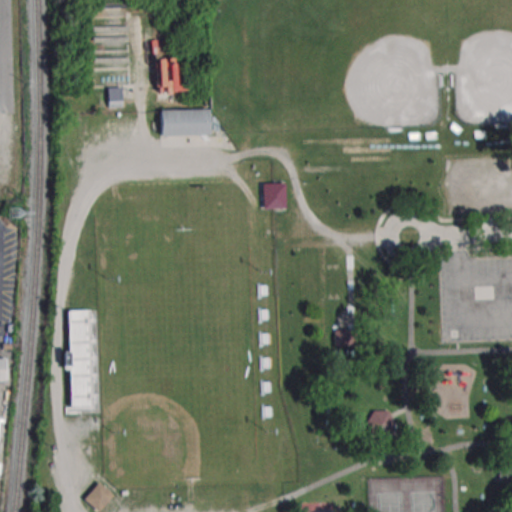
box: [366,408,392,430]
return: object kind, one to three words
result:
building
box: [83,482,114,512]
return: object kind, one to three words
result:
building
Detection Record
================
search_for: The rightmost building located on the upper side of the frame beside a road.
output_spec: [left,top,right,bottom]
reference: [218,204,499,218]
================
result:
[262,184,286,212]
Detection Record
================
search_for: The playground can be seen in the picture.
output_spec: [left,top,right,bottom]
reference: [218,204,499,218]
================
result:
[437,364,476,419]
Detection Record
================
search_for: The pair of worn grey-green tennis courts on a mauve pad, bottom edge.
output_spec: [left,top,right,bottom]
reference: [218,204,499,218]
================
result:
[370,478,442,512]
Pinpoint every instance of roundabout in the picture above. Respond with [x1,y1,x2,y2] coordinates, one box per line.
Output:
[376,204,512,268]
